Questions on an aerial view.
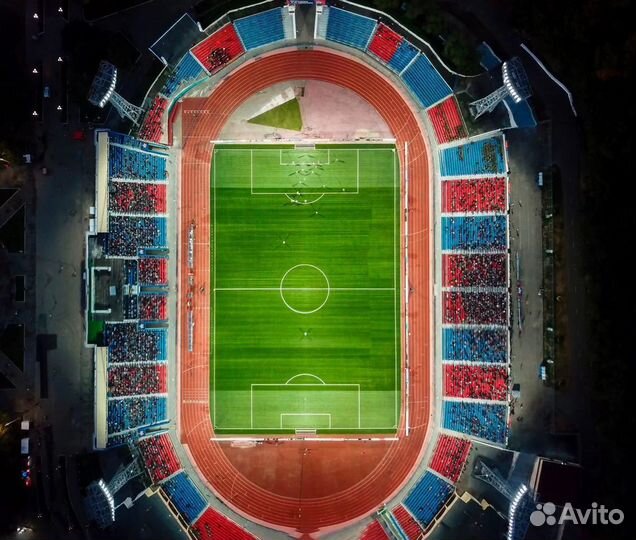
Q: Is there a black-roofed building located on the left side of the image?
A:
Yes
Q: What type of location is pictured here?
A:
sports ground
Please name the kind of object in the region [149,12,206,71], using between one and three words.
building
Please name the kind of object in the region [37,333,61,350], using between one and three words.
building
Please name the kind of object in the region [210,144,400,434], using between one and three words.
soccer field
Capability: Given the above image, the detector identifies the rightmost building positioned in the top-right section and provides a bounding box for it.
[504,96,537,129]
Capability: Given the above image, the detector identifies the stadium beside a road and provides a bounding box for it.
[85,4,514,540]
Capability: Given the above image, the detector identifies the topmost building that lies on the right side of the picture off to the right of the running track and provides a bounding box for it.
[477,40,502,74]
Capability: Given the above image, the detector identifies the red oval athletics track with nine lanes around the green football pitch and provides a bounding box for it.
[176,45,434,540]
